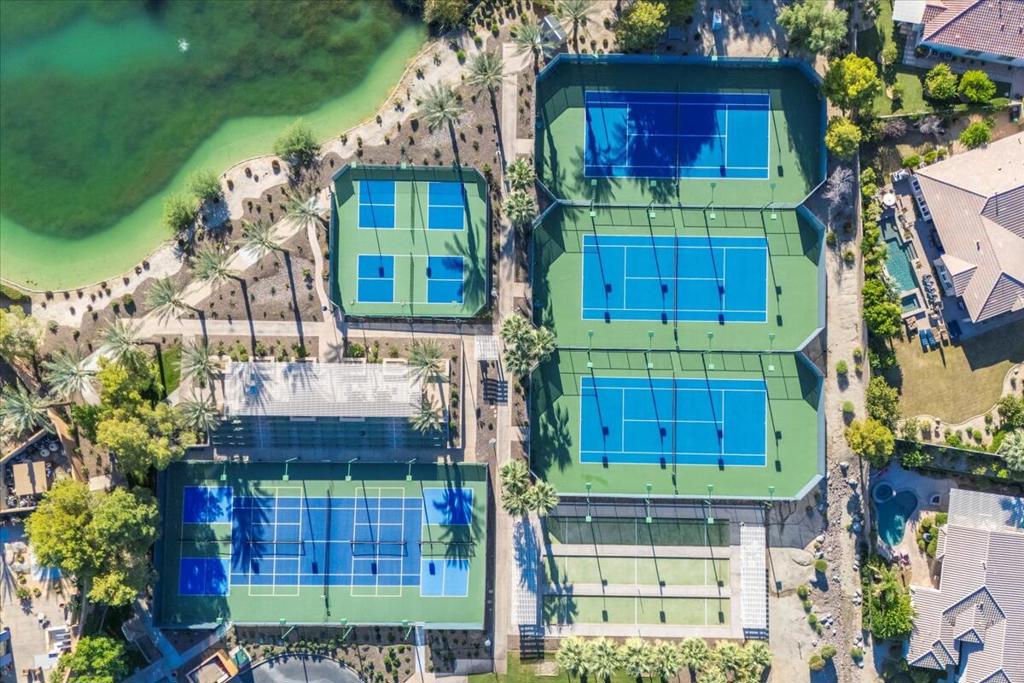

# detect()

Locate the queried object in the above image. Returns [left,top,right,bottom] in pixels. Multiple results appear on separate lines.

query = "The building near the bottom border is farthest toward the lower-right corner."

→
[904,525,1024,683]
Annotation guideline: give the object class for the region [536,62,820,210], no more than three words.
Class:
tennis court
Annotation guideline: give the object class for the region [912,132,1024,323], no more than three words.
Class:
house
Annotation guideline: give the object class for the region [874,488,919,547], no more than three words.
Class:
swimming pool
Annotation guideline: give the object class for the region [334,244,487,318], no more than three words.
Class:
sports court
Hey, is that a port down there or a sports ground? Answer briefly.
sports ground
